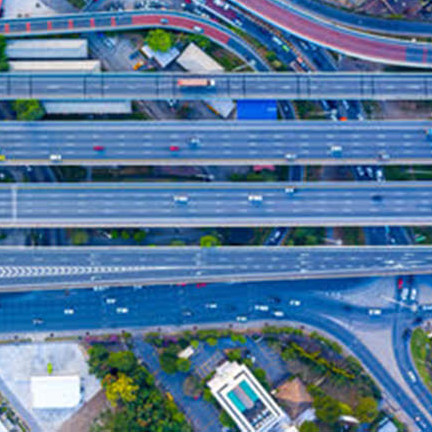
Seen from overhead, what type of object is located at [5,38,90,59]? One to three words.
building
